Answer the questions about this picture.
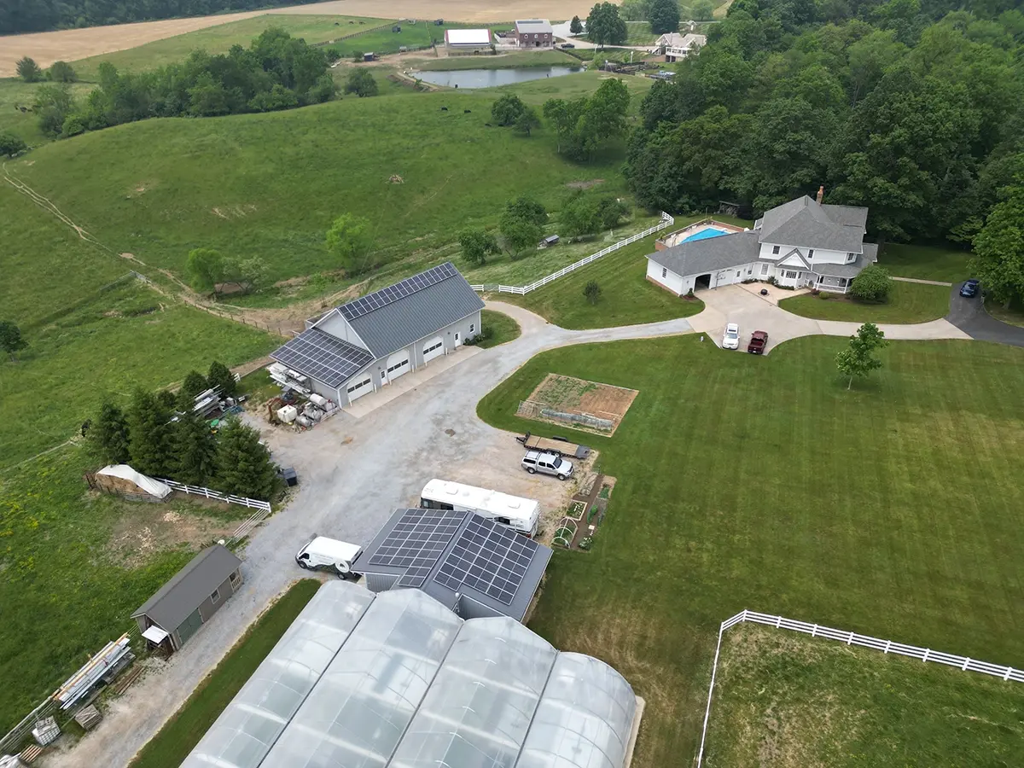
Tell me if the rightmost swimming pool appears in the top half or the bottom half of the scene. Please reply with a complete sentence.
The rightmost swimming pool sits in the top half of the picture.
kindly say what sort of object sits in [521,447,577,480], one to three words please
truck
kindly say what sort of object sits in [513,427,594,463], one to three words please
trailer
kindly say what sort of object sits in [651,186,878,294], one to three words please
house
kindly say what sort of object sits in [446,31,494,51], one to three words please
barn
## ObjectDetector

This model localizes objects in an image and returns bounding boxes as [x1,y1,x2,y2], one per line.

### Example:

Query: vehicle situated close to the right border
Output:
[957,280,976,297]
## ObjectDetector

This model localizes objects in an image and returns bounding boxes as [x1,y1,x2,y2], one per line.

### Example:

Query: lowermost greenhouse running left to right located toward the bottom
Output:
[178,576,645,768]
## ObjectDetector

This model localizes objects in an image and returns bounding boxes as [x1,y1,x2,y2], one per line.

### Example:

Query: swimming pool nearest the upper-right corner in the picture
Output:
[657,215,750,251]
